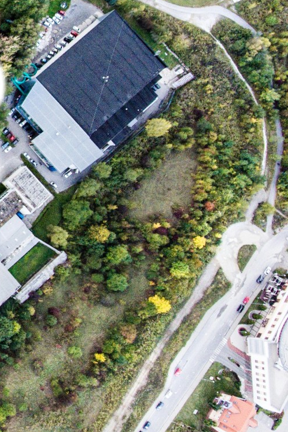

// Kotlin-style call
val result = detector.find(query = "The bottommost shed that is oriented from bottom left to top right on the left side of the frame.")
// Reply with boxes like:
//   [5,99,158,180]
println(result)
[13,251,67,303]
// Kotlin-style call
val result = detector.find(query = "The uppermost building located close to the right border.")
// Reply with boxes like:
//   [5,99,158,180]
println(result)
[253,276,288,340]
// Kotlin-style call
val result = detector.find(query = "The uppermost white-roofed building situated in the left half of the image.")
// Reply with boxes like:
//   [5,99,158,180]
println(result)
[1,167,53,213]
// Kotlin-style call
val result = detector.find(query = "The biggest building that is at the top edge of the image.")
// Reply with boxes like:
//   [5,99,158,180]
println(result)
[29,10,167,136]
